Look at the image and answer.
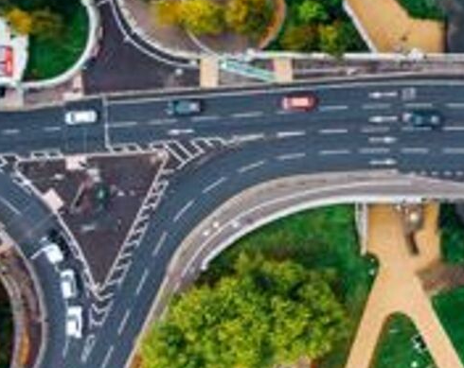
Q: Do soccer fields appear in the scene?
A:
No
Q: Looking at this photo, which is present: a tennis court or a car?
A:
car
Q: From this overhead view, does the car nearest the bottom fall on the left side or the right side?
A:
left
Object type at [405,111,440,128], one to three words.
car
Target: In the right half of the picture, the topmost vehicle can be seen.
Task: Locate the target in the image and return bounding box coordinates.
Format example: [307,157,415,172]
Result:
[283,95,316,111]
